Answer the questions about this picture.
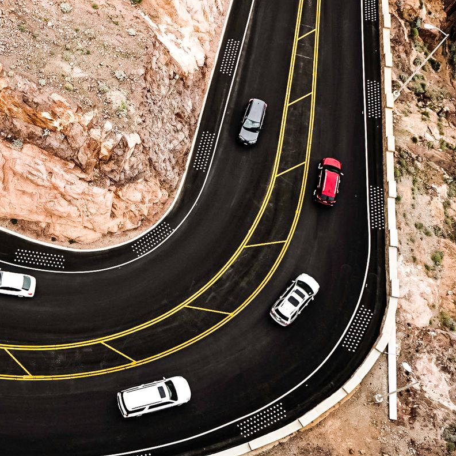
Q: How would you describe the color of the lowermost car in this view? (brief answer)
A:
white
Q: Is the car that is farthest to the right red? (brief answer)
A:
Yes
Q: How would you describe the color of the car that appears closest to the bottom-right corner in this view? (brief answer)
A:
white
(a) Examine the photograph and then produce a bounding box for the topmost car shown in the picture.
[238,96,268,146]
